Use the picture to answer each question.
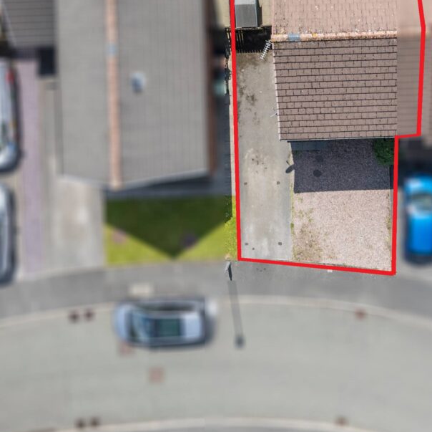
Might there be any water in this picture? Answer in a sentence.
No, the picture contains no water.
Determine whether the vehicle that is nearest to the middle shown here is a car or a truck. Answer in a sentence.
It turns out the vehicle that is nearest to the middle is a car.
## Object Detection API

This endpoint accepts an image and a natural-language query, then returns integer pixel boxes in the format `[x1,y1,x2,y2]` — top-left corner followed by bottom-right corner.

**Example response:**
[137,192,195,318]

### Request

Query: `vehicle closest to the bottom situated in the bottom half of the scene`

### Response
[114,297,217,349]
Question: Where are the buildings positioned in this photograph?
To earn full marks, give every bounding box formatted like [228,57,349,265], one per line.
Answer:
[273,0,427,142]
[56,0,215,191]
[234,0,258,29]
